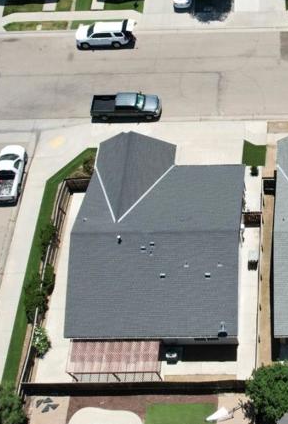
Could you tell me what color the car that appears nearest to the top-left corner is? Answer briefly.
white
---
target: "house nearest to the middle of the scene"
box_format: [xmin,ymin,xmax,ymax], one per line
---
[63,130,246,348]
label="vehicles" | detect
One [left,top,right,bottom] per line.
[72,20,133,51]
[90,92,161,121]
[0,144,26,207]
[174,0,194,11]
